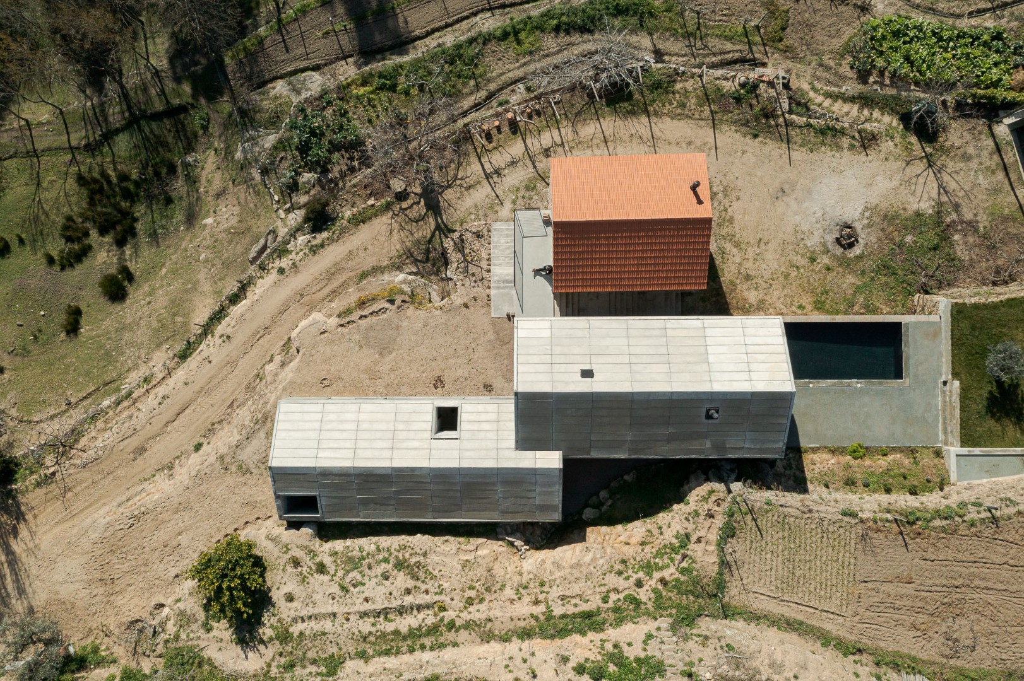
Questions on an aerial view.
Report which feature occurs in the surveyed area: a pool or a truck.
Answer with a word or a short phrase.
pool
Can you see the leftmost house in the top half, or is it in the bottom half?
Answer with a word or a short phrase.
bottom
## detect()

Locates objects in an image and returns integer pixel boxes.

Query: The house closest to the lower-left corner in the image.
[269,393,563,523]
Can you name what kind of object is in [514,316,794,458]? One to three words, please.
house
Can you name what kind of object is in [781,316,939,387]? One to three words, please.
swimming pool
